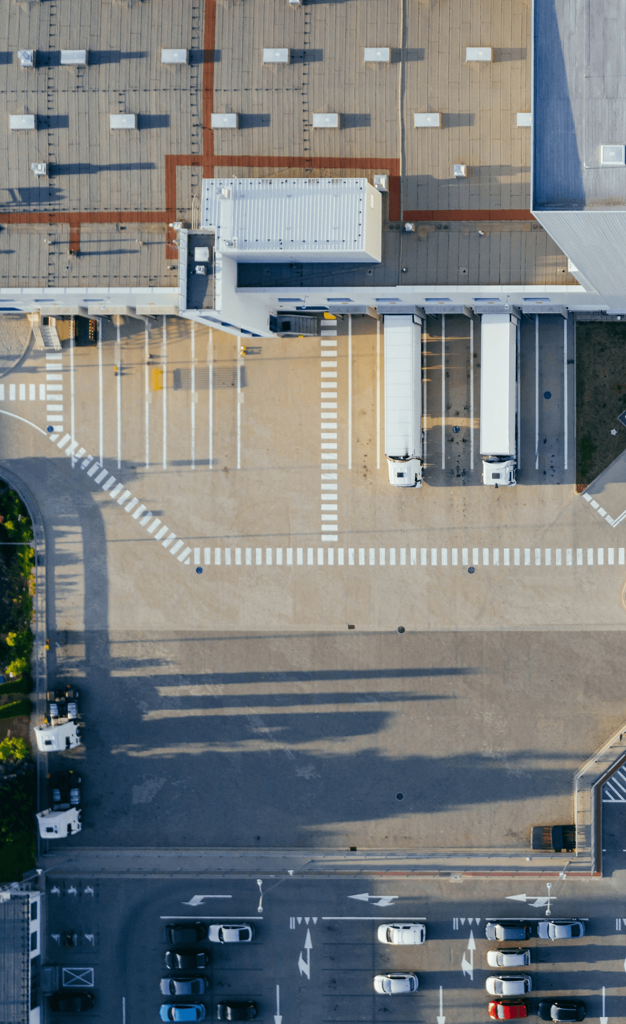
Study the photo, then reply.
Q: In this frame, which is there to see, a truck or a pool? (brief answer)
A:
truck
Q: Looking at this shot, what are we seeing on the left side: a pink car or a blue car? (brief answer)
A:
blue car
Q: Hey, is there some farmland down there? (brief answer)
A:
No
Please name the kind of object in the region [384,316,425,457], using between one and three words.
trailer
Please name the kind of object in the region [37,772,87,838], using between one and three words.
truck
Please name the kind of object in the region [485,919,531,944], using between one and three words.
car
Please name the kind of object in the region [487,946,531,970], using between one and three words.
car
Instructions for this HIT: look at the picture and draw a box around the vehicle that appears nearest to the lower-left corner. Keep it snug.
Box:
[50,990,98,1015]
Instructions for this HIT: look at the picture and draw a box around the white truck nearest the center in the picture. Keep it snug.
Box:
[387,457,424,489]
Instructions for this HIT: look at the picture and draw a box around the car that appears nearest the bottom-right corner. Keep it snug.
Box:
[539,998,586,1024]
